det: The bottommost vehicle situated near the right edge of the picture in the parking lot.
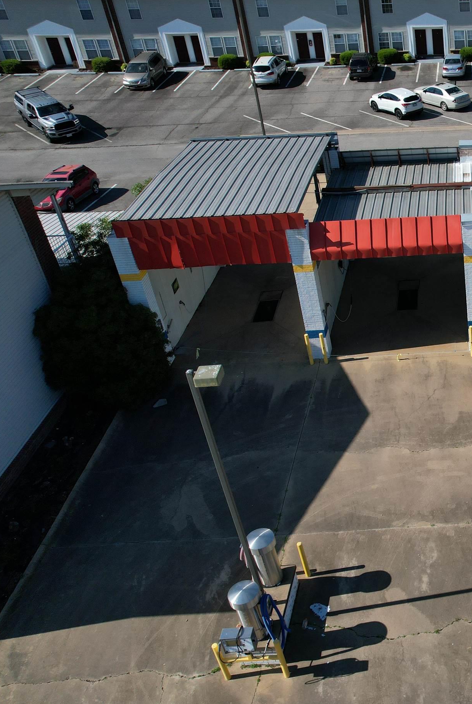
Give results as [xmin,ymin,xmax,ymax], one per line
[416,79,472,111]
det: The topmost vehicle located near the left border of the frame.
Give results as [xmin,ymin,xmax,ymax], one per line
[16,81,94,141]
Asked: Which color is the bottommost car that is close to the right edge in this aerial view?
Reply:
white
